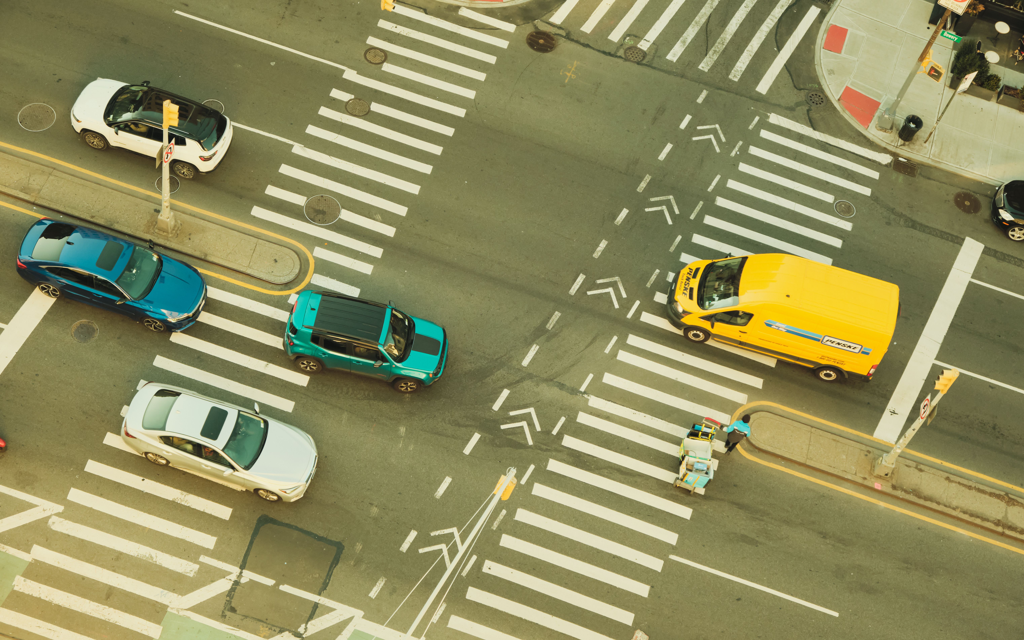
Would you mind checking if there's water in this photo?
No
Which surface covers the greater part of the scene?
paved ground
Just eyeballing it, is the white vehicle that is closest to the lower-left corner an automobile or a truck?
automobile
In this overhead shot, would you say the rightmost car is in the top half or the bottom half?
top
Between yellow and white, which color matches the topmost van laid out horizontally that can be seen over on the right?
yellow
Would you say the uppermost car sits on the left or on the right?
left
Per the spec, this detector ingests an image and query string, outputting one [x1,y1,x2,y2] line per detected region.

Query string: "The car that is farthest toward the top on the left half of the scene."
[72,77,235,180]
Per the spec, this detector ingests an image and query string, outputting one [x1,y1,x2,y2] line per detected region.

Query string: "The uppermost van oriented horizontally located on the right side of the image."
[670,250,899,383]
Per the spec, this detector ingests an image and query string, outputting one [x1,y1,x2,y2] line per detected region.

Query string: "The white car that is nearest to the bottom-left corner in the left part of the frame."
[123,382,324,503]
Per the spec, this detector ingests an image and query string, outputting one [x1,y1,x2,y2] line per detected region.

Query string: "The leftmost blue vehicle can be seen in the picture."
[15,217,209,333]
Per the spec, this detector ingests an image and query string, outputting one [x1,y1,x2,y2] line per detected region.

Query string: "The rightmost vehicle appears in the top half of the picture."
[993,180,1024,242]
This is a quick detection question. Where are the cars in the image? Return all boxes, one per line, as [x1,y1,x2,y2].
[993,180,1024,242]
[15,217,209,333]
[281,287,448,394]
[72,77,235,180]
[123,382,324,503]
